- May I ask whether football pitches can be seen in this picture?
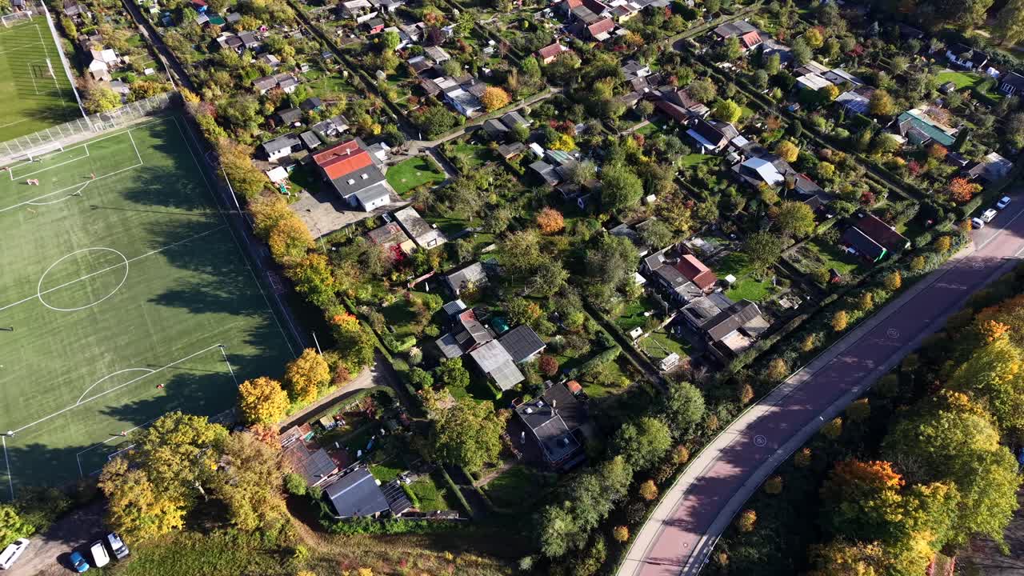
Yes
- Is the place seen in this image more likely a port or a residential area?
residential area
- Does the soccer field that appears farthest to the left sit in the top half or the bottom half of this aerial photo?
top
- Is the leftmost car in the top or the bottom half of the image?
bottom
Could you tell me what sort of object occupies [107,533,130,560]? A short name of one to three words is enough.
car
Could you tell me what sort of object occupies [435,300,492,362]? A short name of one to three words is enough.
house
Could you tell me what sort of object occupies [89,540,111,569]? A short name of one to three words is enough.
car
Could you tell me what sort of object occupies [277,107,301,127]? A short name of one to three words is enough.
shed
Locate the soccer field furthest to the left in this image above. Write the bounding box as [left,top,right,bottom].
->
[0,0,85,155]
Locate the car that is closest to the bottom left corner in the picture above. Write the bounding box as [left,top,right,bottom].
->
[0,541,29,572]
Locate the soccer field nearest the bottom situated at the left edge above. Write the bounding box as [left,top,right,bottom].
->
[0,110,321,515]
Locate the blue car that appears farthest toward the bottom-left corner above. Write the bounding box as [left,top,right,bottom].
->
[70,552,90,574]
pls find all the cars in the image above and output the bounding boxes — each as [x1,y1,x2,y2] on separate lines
[107,533,130,560]
[973,216,987,231]
[70,552,90,574]
[995,196,1012,209]
[980,210,997,224]
[0,541,29,572]
[89,540,111,569]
